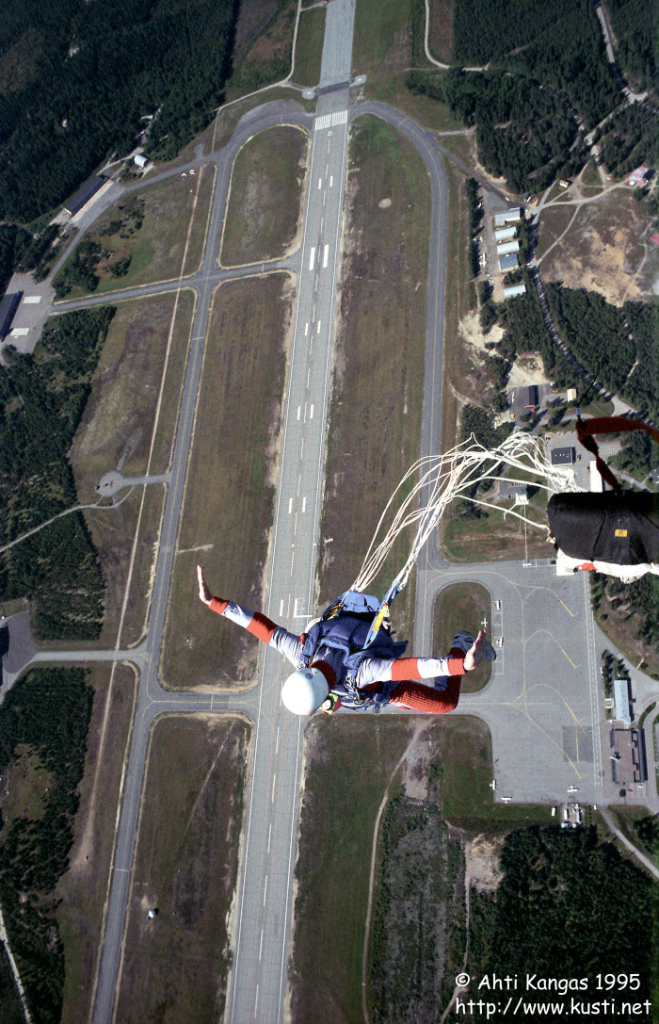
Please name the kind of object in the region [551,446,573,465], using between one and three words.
building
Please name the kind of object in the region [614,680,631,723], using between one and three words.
building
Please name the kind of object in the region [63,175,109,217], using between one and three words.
hangar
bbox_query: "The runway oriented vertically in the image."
[228,93,350,1024]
